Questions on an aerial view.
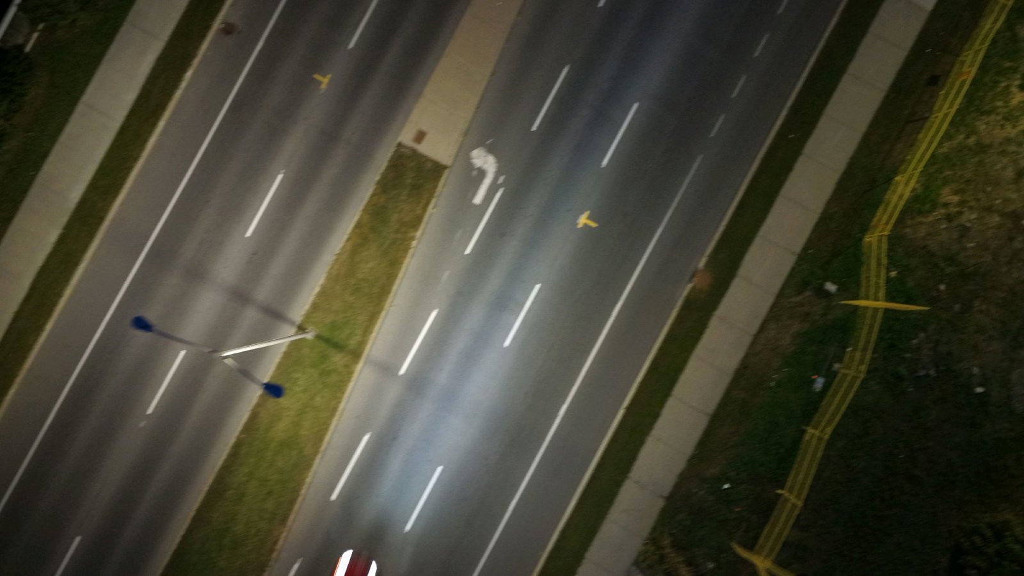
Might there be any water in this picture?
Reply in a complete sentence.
No, water can't be seen anywhere here.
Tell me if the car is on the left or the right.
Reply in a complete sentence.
The car sits on the left side.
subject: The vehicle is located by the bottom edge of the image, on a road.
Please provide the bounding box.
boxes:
[329,546,375,576]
